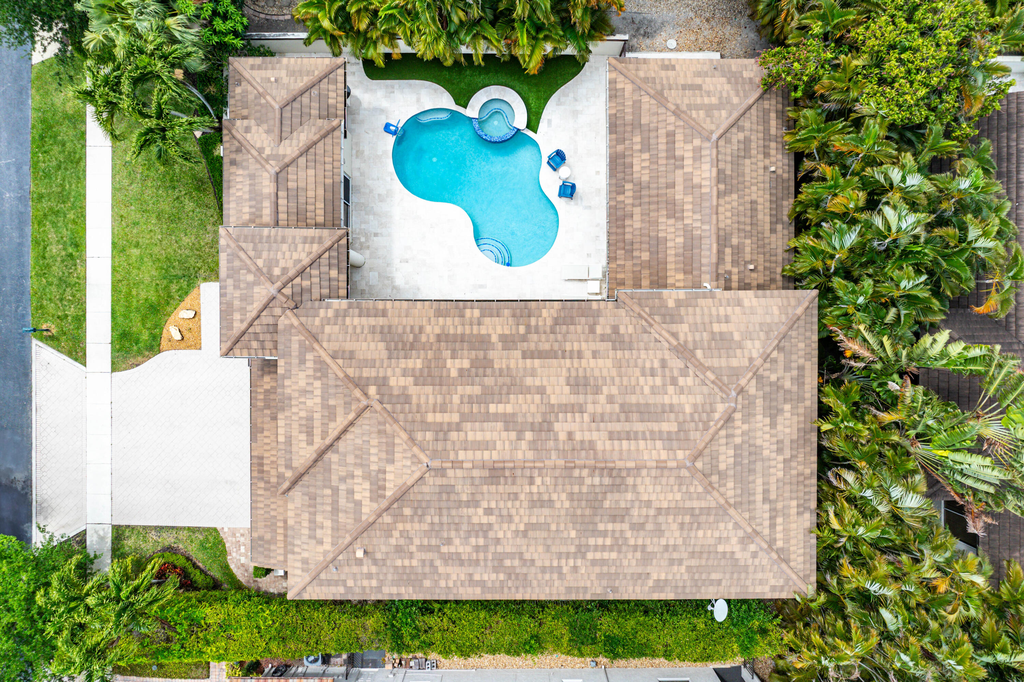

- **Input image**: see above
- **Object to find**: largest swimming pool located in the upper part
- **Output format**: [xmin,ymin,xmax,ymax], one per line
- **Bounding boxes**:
[386,101,565,273]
